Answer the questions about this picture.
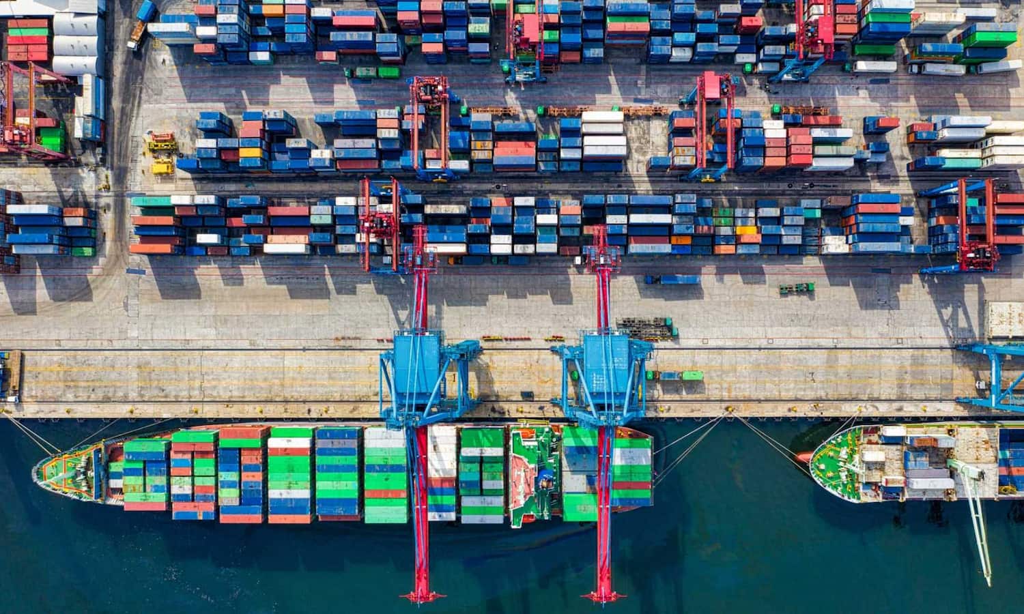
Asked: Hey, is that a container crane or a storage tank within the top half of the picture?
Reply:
container crane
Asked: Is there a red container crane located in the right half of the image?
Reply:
Yes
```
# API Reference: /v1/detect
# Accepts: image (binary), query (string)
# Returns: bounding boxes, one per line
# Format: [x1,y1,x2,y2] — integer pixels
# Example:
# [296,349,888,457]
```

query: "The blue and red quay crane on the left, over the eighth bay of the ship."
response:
[378,225,490,604]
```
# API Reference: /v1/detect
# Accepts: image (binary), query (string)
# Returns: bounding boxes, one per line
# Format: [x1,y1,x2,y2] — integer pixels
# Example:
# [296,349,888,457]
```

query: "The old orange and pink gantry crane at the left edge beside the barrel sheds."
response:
[0,61,81,159]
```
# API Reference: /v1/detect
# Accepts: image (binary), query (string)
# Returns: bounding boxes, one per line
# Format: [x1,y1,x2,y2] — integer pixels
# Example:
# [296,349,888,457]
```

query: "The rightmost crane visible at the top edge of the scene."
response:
[768,0,834,80]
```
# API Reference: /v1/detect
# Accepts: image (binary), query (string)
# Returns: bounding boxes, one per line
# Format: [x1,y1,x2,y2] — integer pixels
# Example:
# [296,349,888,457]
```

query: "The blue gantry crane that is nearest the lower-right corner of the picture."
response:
[957,348,1024,414]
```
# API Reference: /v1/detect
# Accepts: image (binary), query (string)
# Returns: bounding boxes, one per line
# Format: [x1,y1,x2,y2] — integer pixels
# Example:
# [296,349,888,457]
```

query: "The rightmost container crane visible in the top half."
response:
[917,178,997,277]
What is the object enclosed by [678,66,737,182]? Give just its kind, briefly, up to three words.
container crane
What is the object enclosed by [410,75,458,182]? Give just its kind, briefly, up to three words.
container crane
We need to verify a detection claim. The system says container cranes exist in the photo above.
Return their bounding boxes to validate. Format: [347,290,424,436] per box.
[501,0,546,80]
[378,225,490,604]
[362,178,414,277]
[957,348,1024,414]
[544,225,650,604]
[768,0,834,80]
[678,66,737,182]
[410,75,458,182]
[917,178,997,277]
[0,61,81,159]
